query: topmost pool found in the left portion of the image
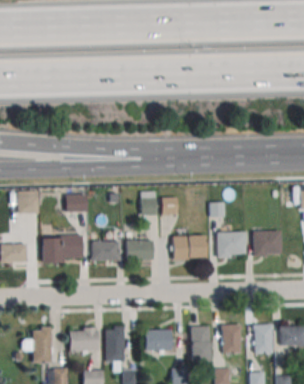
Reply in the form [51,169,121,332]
[95,214,109,228]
